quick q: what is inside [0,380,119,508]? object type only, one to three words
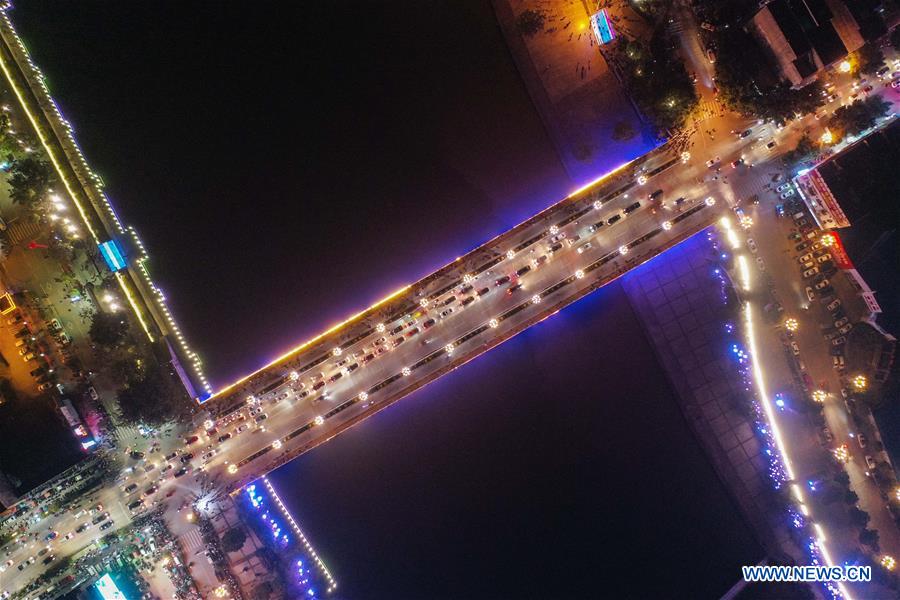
building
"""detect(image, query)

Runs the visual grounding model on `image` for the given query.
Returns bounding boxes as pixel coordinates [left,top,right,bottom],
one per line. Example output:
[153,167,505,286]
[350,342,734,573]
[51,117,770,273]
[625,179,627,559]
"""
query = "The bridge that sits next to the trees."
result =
[201,141,729,486]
